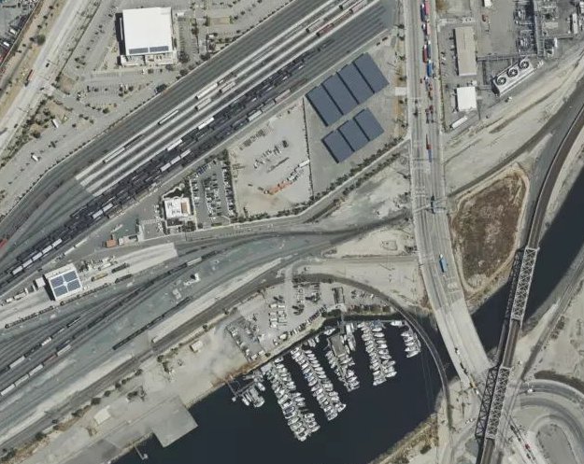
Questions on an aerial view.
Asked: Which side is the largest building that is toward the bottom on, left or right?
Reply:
left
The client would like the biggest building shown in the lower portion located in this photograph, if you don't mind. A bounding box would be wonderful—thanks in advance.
[44,263,83,304]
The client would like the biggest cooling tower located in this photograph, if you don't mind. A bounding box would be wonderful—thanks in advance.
[492,57,534,98]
